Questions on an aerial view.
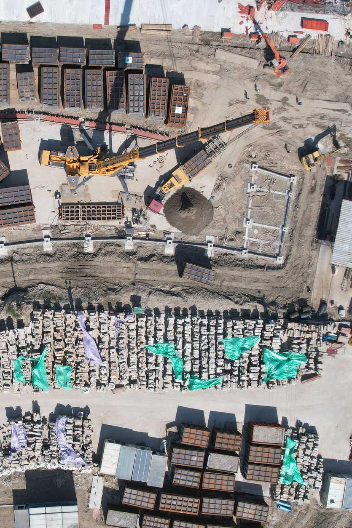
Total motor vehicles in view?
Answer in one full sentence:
My tally gives 3 motor vehicles in this view.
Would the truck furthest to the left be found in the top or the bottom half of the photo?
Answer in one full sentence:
The truck furthest to the left is in the top half of the image.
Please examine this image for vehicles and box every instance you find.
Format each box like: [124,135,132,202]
[297,148,348,173]
[263,30,288,79]
[146,137,227,215]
